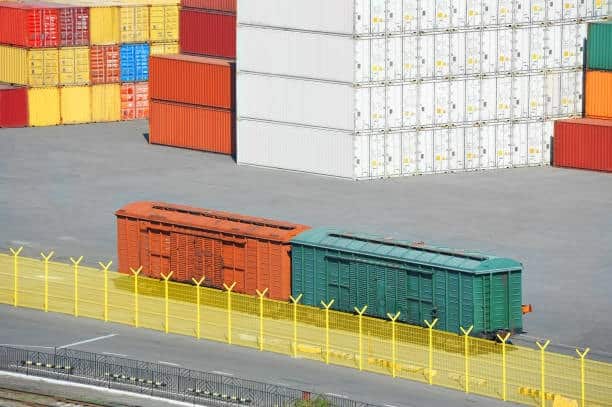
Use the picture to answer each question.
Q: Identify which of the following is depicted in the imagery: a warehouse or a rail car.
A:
rail car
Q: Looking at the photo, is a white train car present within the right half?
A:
No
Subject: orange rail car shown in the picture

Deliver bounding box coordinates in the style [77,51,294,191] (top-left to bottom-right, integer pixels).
[114,202,316,321]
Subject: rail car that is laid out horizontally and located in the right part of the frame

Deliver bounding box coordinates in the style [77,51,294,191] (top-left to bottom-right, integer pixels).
[290,230,528,357]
